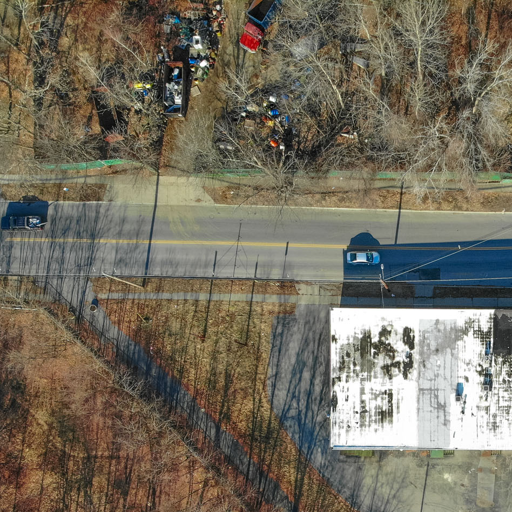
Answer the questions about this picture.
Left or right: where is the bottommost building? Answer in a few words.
right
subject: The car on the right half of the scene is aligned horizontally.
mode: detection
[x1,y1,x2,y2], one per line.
[347,250,380,266]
